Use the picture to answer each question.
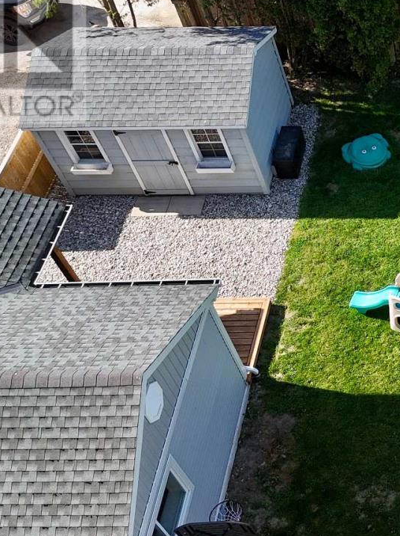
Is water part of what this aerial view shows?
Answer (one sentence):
No, the picture contains no water.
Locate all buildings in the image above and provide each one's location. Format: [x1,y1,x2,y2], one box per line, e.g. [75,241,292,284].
[0,185,275,536]
[20,30,293,197]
